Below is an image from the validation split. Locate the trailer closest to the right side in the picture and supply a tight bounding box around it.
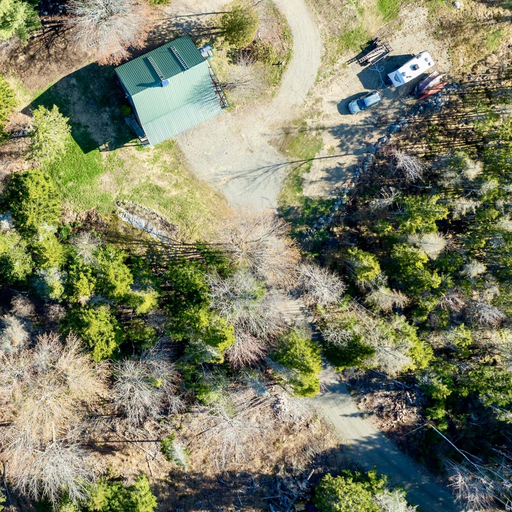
[381,50,435,87]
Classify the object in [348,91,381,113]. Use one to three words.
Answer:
car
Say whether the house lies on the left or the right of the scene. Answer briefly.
left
